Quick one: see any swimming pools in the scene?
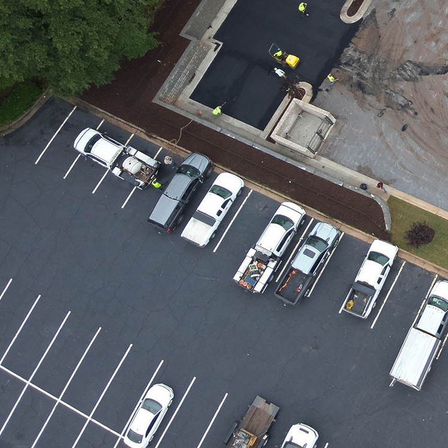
No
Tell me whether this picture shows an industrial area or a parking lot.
parking lot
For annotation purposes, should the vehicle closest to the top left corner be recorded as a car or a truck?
truck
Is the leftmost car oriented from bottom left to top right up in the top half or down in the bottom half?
bottom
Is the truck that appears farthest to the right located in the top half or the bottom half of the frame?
bottom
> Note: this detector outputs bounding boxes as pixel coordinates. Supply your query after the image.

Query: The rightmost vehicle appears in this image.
[394,279,448,390]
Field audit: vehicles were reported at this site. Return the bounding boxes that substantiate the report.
[344,239,399,323]
[283,423,320,448]
[184,173,247,251]
[262,35,304,70]
[276,221,341,308]
[238,202,307,293]
[146,152,214,234]
[72,128,162,195]
[121,381,176,448]
[394,279,448,390]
